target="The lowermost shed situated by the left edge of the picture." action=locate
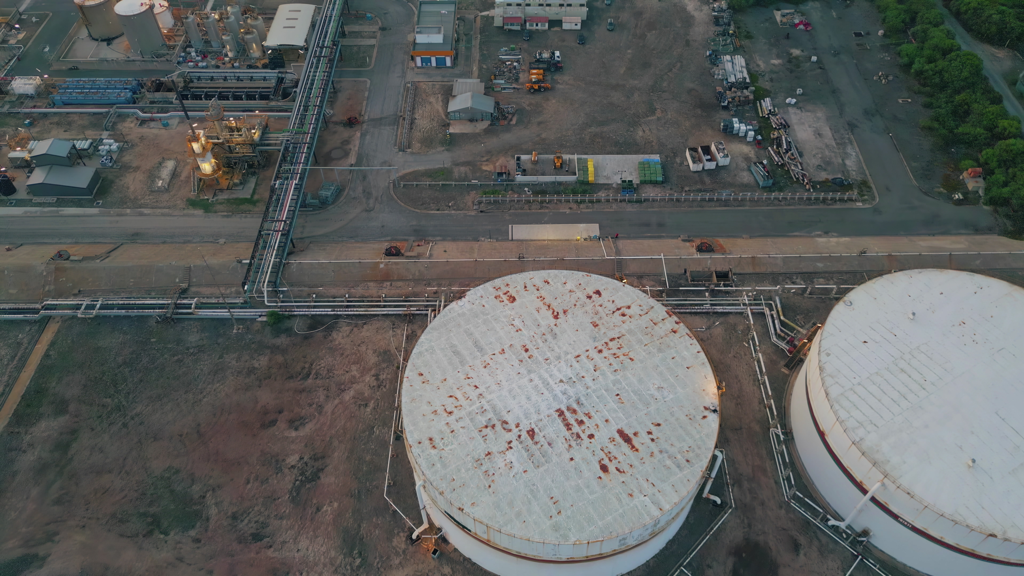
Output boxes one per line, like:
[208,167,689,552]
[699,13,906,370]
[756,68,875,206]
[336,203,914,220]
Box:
[26,163,102,200]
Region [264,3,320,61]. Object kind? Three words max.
building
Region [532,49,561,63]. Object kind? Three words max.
vehicle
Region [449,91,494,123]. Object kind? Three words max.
shed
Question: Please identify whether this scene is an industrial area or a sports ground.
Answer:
industrial area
